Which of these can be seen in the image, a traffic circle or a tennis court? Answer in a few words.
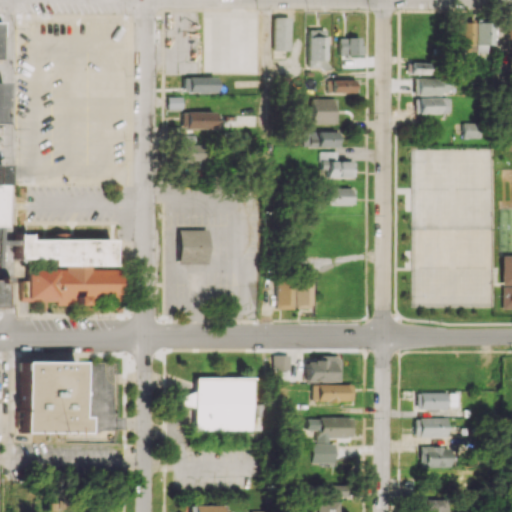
tennis court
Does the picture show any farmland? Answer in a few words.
No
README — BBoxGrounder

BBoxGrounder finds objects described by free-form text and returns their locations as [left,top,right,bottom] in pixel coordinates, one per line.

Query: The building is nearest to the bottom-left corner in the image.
[20,361,98,434]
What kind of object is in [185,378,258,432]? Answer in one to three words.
building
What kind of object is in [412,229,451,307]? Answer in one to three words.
tennis court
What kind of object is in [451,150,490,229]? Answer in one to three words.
tennis court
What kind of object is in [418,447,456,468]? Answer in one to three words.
house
